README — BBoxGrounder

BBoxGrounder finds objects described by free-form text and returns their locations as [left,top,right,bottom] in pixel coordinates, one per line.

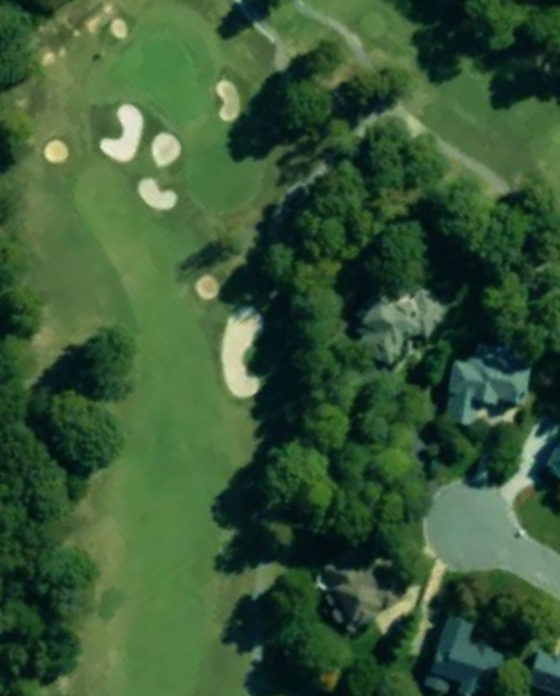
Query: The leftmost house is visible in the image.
[315,560,394,637]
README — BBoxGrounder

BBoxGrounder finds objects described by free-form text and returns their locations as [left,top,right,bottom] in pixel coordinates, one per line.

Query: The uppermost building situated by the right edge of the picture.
[447,345,535,425]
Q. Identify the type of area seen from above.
golf course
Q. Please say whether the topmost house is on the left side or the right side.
right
